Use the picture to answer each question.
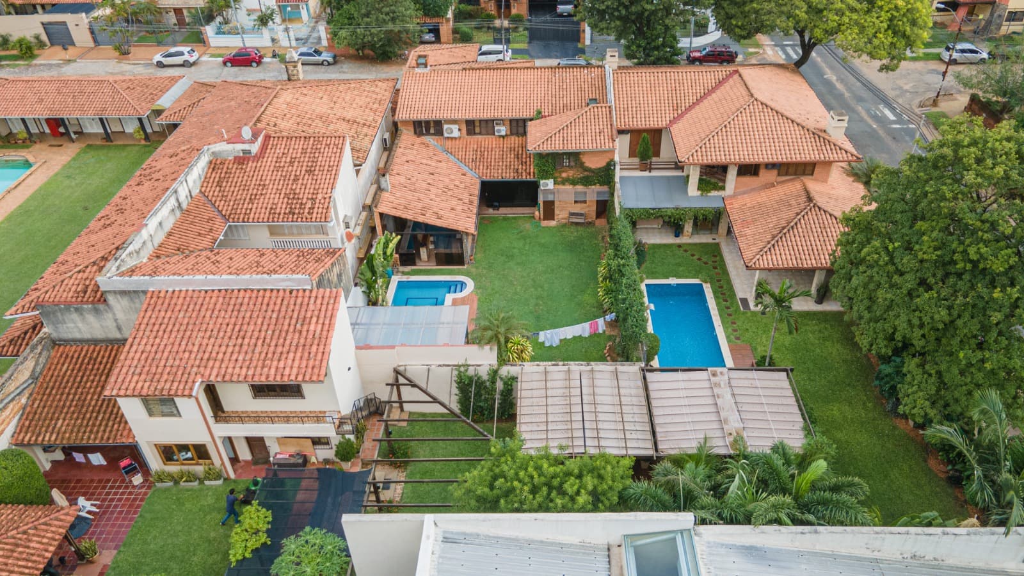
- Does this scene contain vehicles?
Yes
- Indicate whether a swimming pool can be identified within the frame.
Yes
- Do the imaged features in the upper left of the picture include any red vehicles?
Yes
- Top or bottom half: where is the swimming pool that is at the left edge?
top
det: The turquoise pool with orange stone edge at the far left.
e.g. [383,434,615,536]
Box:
[0,154,41,199]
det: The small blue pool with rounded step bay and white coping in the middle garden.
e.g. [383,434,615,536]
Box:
[383,275,478,337]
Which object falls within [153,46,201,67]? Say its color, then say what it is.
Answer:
white car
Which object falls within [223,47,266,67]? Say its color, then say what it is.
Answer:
red car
